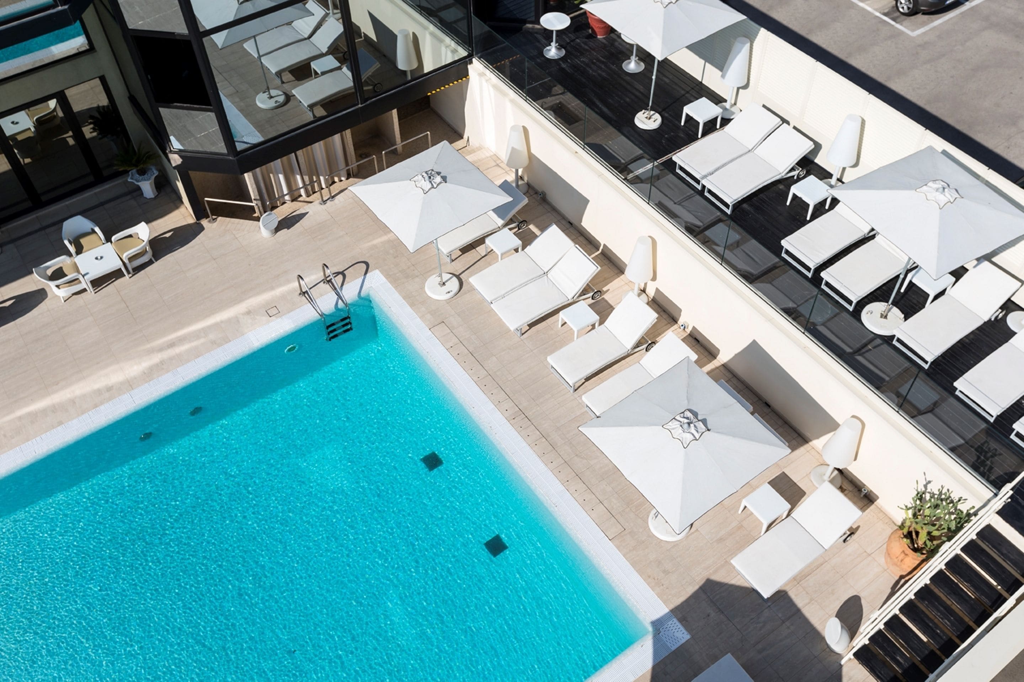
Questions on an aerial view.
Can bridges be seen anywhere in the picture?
No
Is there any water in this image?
Yes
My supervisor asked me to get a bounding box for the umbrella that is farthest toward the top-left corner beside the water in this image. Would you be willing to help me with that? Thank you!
[348,140,517,299]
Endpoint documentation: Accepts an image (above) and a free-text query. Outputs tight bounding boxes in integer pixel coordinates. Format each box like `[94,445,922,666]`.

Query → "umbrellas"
[579,0,748,129]
[581,359,795,541]
[348,140,517,299]
[827,143,1024,332]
